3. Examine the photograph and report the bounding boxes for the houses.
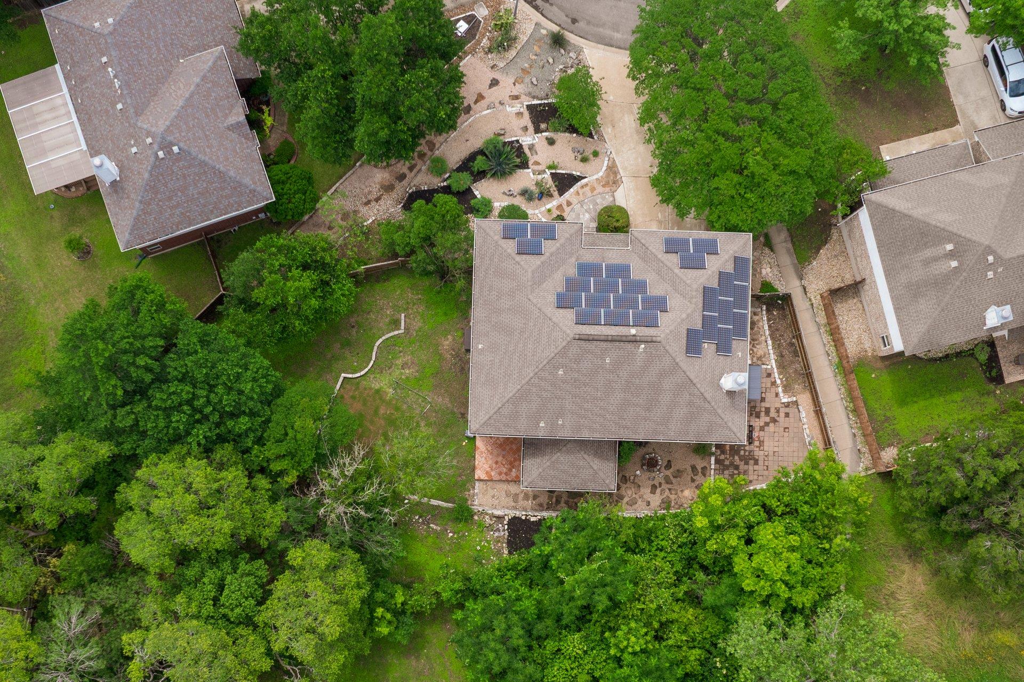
[842,115,1024,356]
[467,216,754,493]
[40,0,277,260]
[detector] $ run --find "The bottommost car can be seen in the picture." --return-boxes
[983,35,1024,117]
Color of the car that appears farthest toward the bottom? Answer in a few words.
white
